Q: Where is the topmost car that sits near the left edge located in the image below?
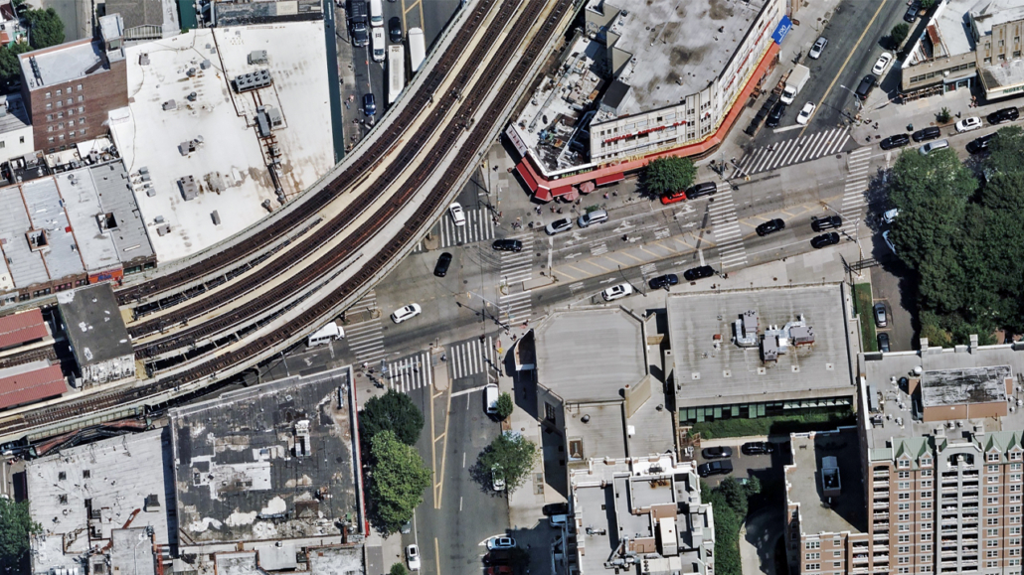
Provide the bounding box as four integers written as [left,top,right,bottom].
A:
[14,0,38,20]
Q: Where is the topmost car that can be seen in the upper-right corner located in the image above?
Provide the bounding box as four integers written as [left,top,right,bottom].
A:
[902,0,923,24]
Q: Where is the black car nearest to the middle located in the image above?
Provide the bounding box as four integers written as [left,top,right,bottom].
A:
[492,237,522,252]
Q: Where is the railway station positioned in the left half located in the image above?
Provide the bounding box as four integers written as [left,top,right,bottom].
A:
[0,308,136,419]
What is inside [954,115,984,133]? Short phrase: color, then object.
white car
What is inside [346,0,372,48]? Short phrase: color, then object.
black truck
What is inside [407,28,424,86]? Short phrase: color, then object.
white vehicle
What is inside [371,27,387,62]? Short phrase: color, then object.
white vehicle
